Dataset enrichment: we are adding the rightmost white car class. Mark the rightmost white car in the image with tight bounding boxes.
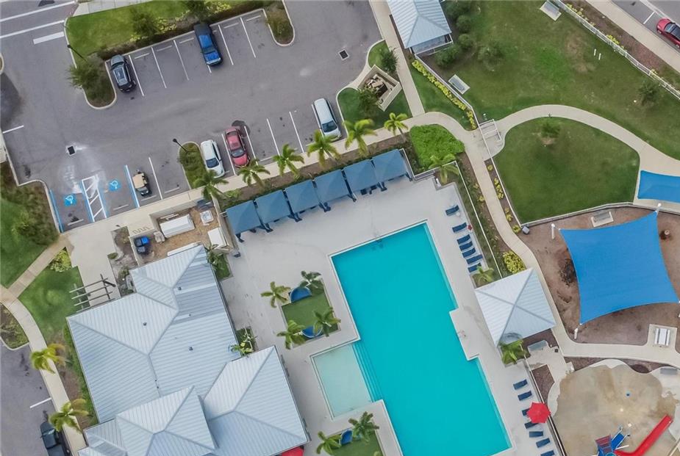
[311,95,343,140]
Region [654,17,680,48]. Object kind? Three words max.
car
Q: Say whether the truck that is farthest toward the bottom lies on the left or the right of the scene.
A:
left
